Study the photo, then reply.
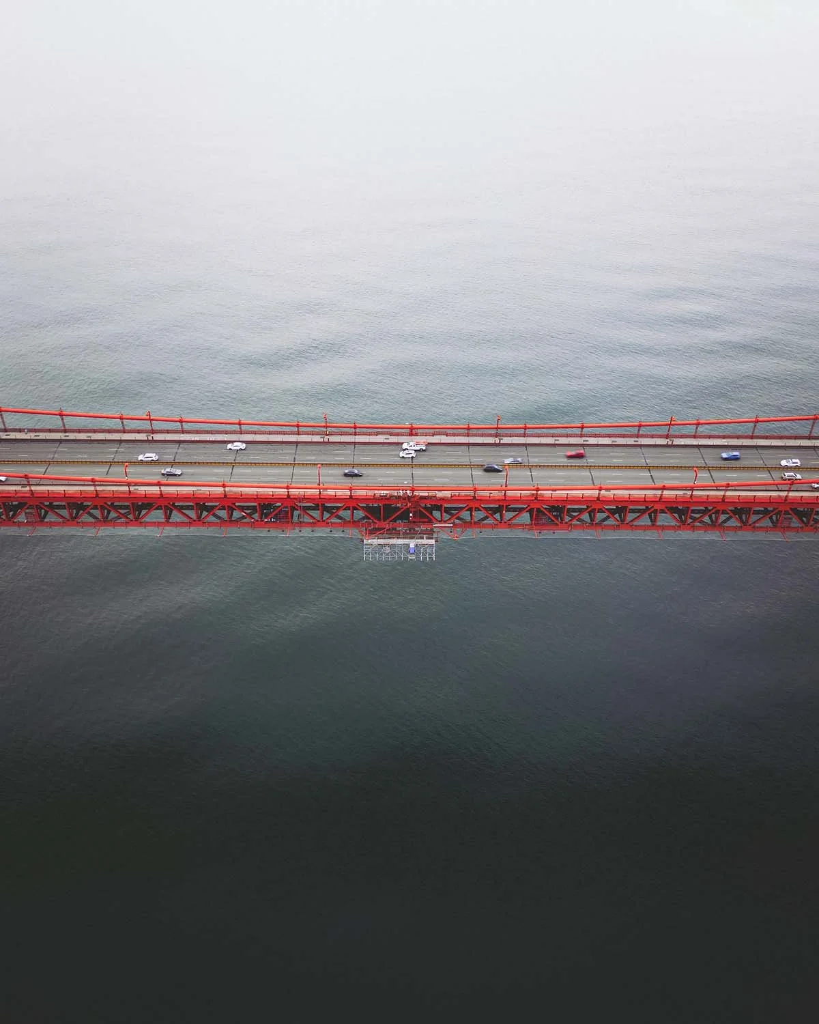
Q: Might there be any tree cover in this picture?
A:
No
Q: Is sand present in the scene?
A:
No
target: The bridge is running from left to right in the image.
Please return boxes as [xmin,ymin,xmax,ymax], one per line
[0,404,819,540]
